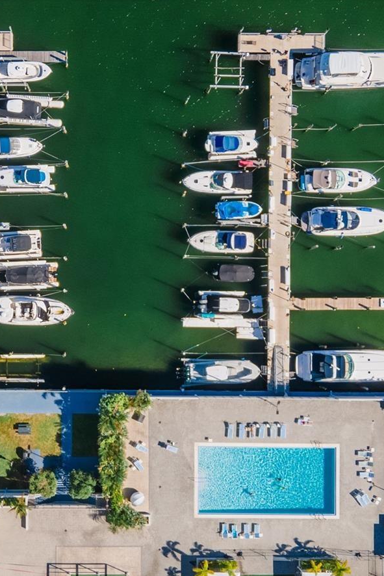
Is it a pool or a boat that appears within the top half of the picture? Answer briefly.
boat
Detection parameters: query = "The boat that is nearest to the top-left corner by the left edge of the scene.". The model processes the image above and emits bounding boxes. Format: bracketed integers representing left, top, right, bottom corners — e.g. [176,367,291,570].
[0,62,52,83]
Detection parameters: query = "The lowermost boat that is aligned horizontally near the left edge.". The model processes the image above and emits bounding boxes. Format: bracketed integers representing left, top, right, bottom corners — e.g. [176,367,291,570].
[0,296,76,326]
